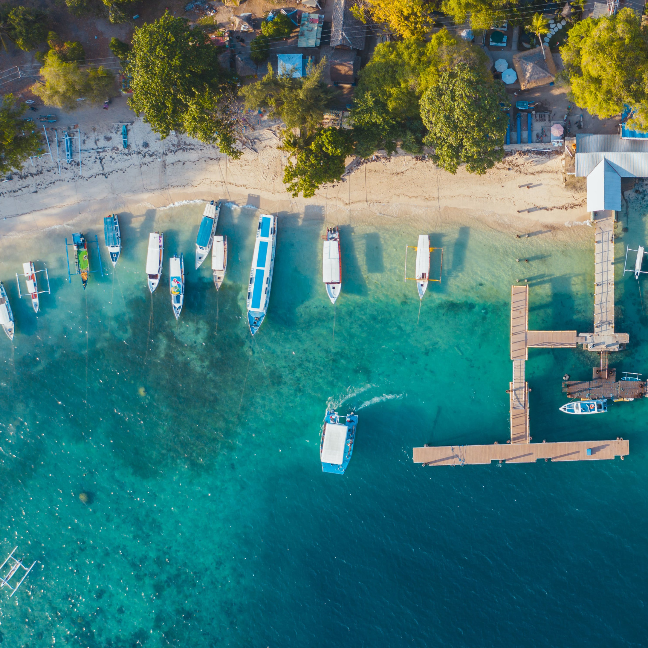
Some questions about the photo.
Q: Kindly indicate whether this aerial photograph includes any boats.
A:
Yes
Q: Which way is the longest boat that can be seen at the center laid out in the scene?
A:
up and down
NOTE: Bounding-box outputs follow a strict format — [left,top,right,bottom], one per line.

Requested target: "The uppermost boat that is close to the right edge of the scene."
[623,246,648,284]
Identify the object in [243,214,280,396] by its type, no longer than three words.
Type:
boat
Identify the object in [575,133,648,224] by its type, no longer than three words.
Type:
building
